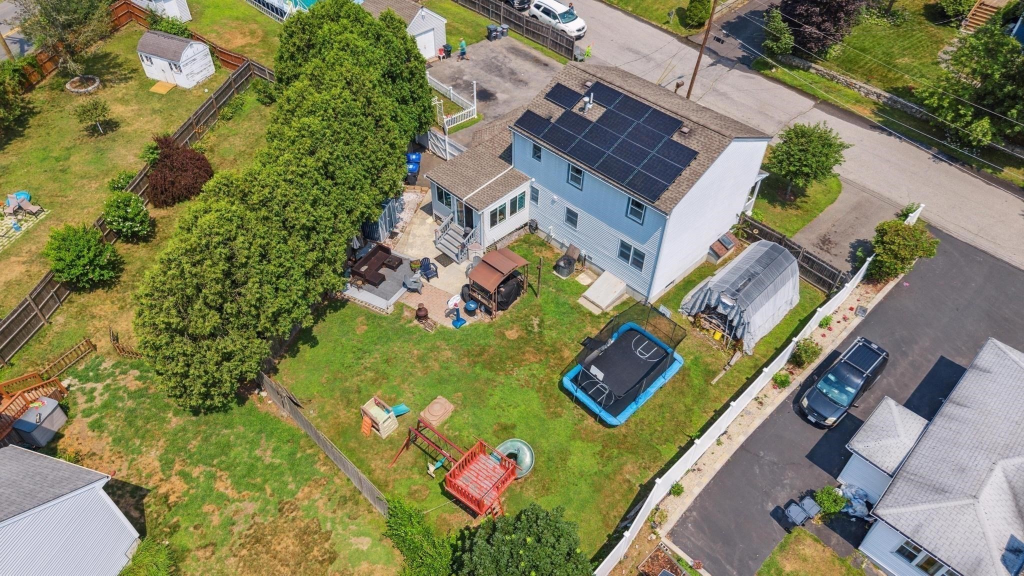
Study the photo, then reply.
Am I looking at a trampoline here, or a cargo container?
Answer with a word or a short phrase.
trampoline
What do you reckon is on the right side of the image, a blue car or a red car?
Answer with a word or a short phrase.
blue car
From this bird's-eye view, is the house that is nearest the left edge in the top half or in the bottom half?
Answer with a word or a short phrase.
bottom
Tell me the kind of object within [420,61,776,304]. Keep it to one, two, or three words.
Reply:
house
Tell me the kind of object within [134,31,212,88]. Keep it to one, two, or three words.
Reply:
shed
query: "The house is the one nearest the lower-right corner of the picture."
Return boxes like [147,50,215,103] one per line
[836,337,1024,576]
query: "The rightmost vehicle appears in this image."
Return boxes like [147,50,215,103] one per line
[800,330,891,428]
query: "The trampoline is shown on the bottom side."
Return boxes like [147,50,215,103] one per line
[565,302,685,423]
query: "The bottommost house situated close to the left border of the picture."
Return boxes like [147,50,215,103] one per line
[0,439,137,576]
